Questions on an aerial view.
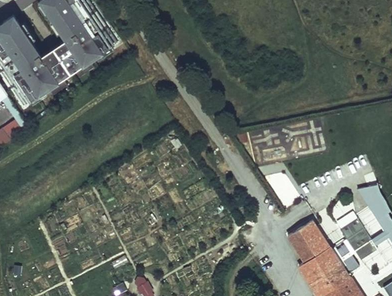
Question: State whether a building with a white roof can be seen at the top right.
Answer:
No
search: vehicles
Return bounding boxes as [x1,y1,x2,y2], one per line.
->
[259,256,270,264]
[313,178,321,189]
[263,194,270,206]
[267,202,274,213]
[302,184,310,195]
[324,172,332,184]
[262,262,272,270]
[320,176,328,186]
[336,168,343,179]
[348,164,356,174]
[358,156,366,167]
[354,159,361,170]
